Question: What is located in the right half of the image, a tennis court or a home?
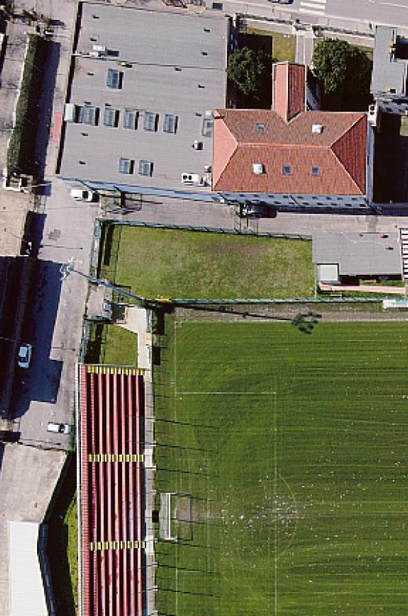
home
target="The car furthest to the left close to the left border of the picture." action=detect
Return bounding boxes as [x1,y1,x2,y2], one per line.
[17,344,34,369]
